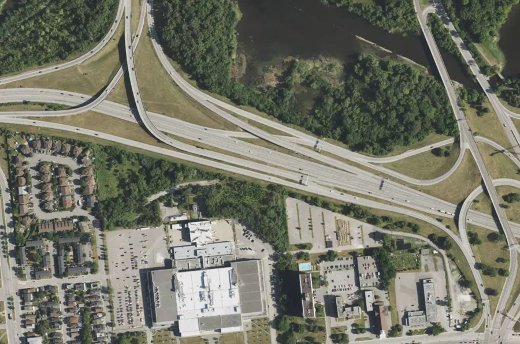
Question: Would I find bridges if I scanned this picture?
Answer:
Yes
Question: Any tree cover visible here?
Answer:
Yes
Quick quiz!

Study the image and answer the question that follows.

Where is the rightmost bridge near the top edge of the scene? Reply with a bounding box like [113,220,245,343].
[417,16,453,94]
